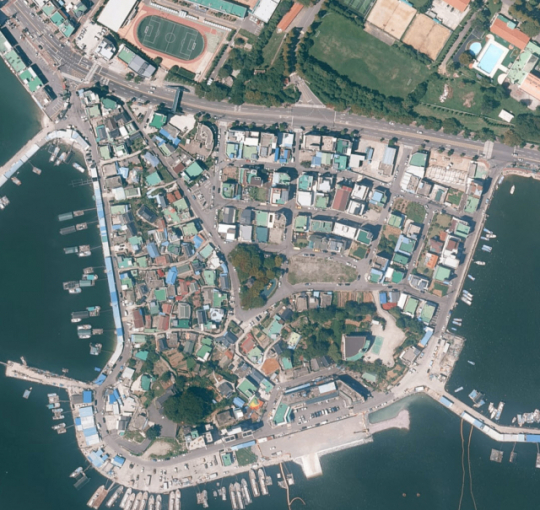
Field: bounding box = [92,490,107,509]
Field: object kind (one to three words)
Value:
boat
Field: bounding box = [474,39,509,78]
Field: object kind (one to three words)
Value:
swimming pool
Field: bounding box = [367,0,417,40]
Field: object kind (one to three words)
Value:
sports court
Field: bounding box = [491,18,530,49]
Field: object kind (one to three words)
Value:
house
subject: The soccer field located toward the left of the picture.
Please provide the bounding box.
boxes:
[138,16,203,60]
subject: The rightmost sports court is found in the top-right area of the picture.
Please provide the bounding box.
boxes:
[402,13,452,60]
